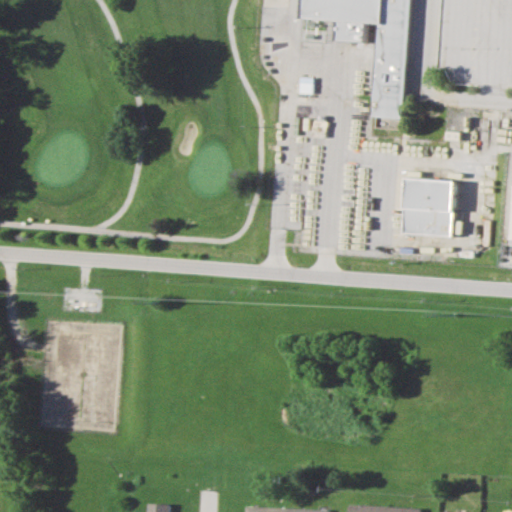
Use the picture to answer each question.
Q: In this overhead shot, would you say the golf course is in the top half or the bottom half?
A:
top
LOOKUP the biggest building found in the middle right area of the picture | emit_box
[401,180,454,237]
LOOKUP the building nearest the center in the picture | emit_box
[311,118,330,138]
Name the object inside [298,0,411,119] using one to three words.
building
